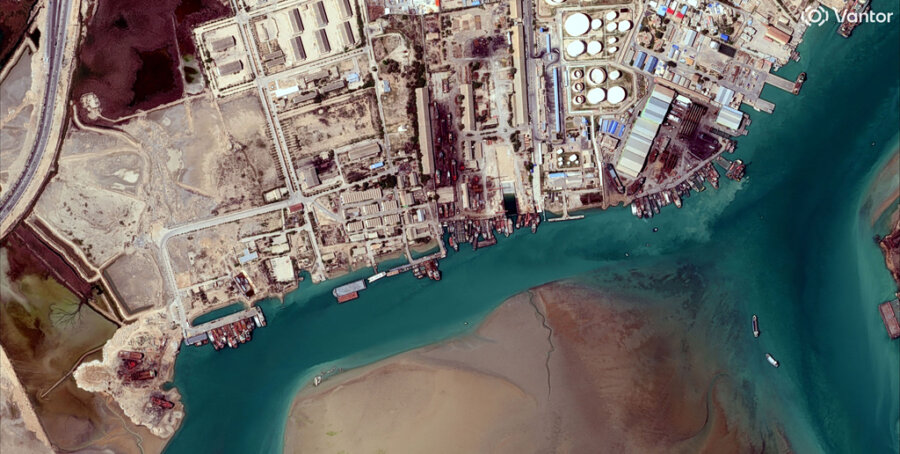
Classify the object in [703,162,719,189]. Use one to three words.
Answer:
vessel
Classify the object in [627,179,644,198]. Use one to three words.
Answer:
ship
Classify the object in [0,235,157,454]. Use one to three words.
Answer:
pond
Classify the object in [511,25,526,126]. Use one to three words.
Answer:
building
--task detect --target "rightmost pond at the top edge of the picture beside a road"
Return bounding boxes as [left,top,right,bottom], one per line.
[69,0,234,146]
